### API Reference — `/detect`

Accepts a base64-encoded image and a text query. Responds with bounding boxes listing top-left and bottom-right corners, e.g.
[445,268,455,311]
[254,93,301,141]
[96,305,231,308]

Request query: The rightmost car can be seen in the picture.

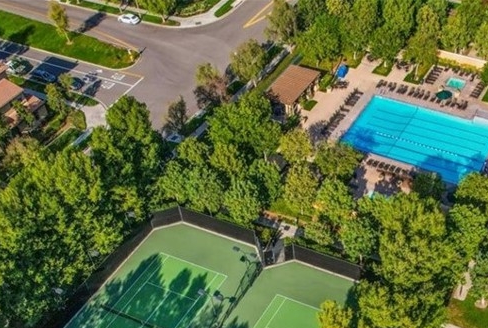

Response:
[117,11,140,23]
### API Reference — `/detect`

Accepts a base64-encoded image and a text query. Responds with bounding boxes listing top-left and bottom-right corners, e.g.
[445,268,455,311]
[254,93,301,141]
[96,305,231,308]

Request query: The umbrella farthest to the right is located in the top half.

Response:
[433,90,454,107]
